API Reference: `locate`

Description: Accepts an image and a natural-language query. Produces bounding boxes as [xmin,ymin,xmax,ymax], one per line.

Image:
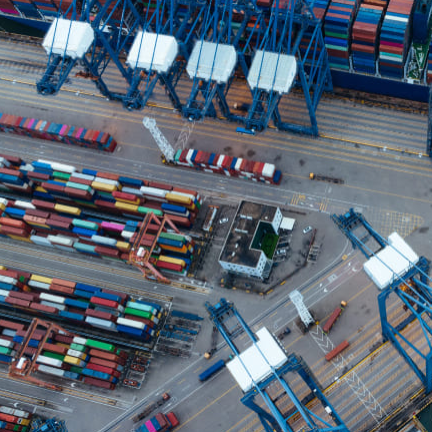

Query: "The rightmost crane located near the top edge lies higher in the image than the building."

[242,0,332,137]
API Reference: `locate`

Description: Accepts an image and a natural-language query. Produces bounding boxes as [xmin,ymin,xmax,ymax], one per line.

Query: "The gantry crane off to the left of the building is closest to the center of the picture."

[127,210,191,280]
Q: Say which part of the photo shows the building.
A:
center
